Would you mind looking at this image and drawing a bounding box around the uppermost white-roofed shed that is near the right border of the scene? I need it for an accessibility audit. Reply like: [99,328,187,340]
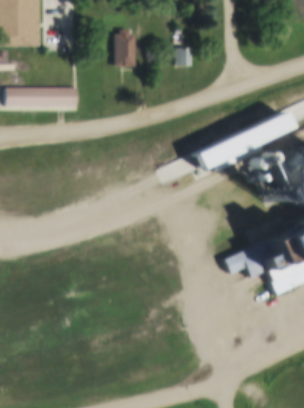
[191,112,299,171]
